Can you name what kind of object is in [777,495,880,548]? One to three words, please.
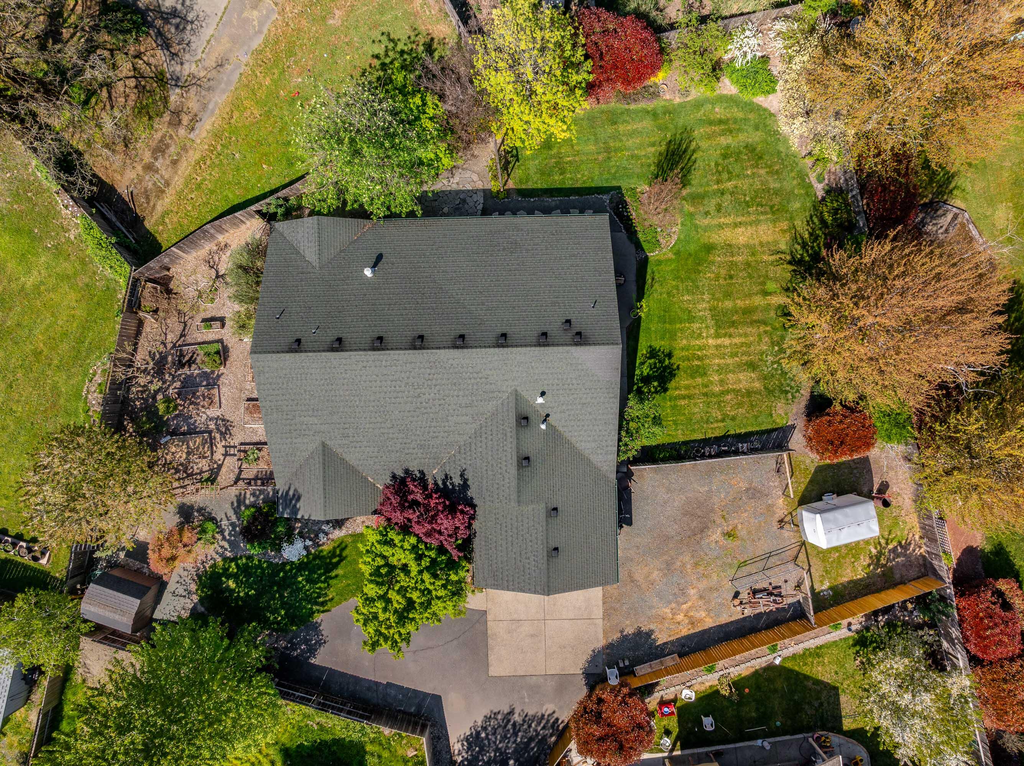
trailer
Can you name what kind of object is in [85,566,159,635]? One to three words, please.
shed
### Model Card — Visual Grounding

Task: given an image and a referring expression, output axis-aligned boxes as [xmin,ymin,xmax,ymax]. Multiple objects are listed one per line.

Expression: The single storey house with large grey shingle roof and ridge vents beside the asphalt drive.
[250,211,622,596]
